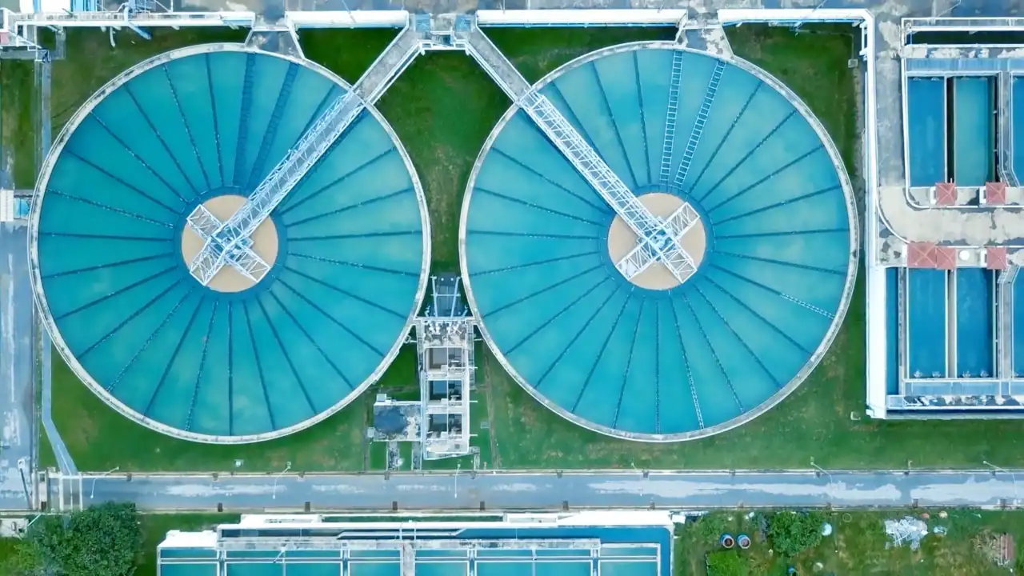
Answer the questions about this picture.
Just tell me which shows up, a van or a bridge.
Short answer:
bridge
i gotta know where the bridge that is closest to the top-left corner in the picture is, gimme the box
[185,89,366,285]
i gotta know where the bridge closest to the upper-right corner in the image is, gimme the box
[520,91,700,284]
